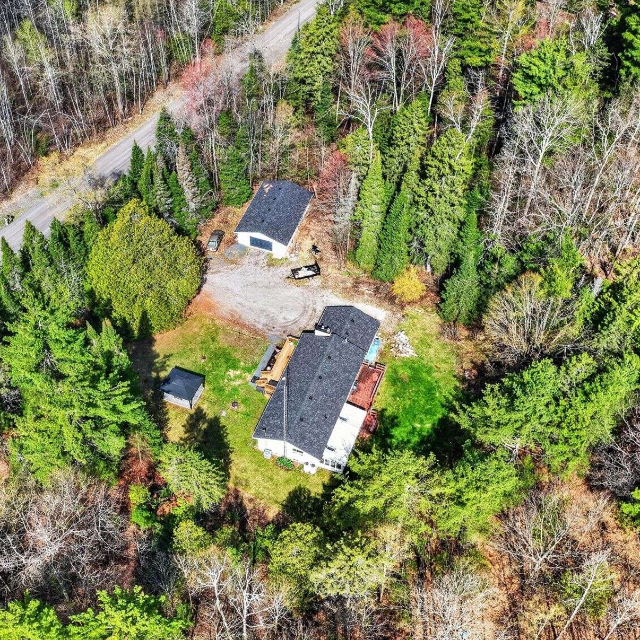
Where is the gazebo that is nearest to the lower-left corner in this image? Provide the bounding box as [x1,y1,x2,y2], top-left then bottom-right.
[158,371,204,415]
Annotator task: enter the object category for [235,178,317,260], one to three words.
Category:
building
